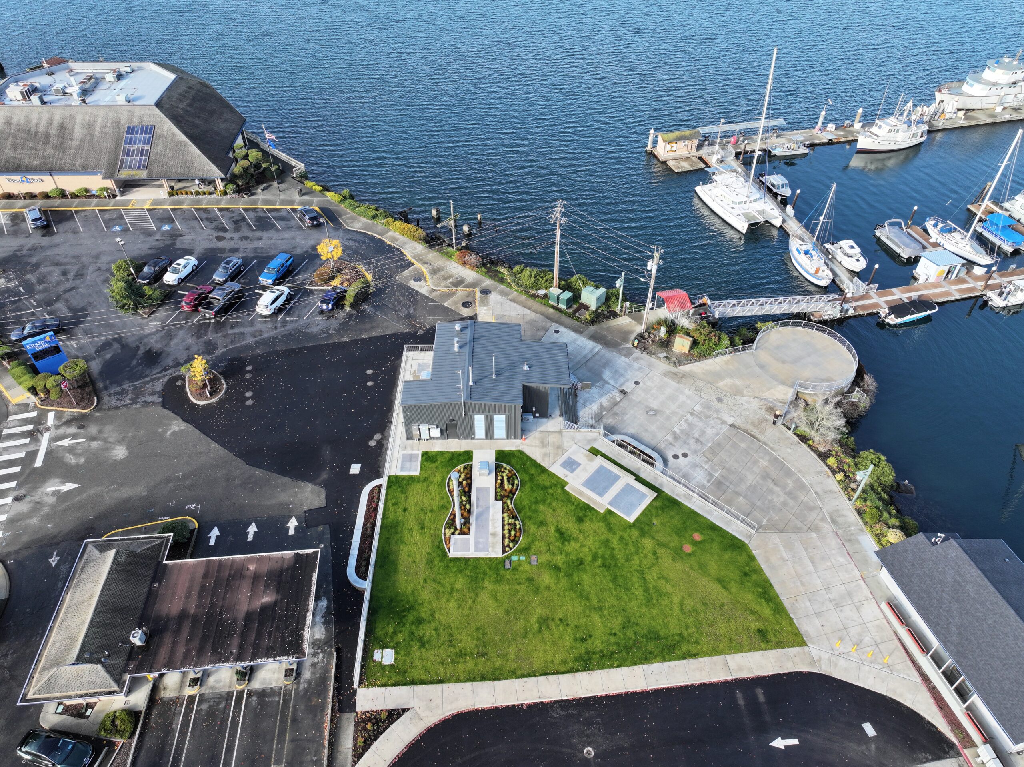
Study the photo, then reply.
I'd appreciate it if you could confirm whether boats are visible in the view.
Yes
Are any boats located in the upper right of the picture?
Yes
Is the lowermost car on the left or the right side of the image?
left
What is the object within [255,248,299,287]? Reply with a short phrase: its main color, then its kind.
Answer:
blue truck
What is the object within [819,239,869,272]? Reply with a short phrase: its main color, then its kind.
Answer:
white boat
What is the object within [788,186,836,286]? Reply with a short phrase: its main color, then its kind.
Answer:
white boat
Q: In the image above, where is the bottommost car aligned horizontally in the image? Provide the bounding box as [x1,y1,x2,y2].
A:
[1,728,97,767]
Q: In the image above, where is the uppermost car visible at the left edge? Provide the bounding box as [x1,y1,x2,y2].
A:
[21,203,46,227]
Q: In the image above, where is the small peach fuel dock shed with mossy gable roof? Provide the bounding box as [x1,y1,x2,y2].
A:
[655,123,701,156]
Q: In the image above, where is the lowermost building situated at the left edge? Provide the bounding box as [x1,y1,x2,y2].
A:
[17,533,321,707]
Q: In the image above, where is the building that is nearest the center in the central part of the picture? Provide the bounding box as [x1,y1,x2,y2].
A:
[401,319,571,442]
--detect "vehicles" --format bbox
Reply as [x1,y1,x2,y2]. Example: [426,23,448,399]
[194,279,247,318]
[21,203,46,227]
[160,255,201,286]
[252,282,296,316]
[1,728,97,767]
[294,203,321,227]
[178,281,216,312]
[209,251,249,284]
[316,282,348,312]
[136,255,176,284]
[255,248,299,287]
